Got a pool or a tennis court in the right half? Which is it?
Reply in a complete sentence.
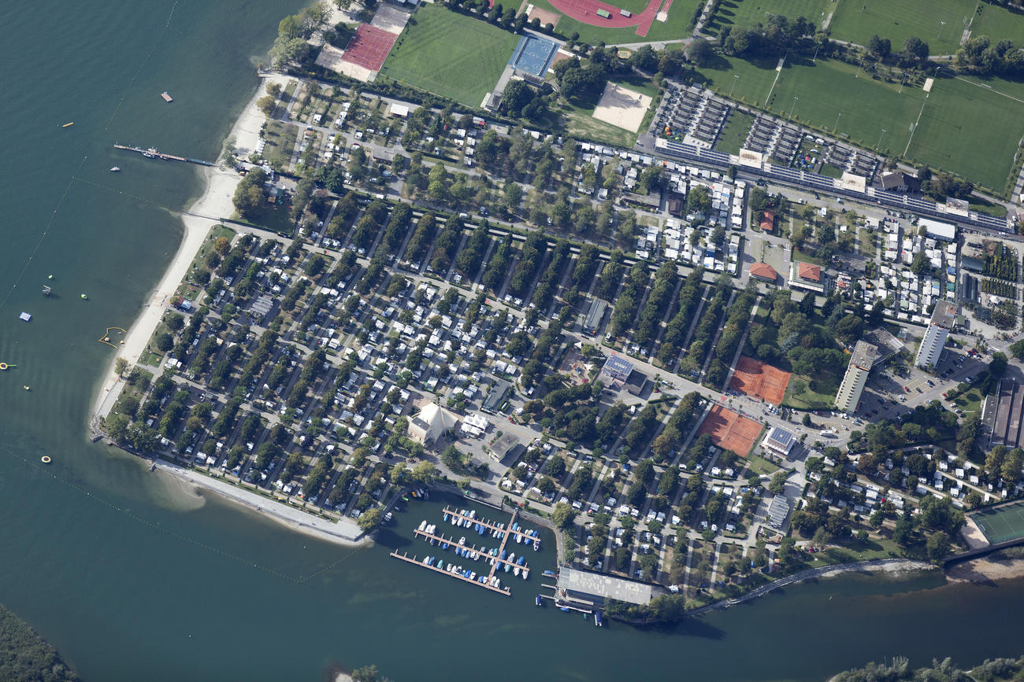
The feature located in the right half is a tennis court.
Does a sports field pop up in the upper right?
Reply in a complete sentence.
Yes, a sports field shows up in the upper right.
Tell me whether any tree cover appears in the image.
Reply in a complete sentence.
Yes, the picture does contain tree cover.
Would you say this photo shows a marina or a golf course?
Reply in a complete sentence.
This looks like a marina.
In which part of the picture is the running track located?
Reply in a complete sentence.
Look in the top portion of the view to spot the running track.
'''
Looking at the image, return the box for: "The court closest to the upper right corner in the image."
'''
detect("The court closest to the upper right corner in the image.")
[593,82,652,132]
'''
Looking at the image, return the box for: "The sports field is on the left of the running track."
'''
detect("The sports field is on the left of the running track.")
[380,2,513,108]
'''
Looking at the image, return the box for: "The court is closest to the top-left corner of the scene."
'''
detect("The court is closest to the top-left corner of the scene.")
[342,23,398,71]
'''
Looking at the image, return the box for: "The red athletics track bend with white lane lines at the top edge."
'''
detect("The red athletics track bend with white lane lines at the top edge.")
[549,0,672,36]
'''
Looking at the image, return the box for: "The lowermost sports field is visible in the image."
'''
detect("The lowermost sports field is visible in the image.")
[971,502,1024,544]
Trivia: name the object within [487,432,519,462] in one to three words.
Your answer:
building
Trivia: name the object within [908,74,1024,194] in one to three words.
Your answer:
sports field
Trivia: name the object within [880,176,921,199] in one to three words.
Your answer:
house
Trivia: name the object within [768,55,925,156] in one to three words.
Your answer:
sports field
